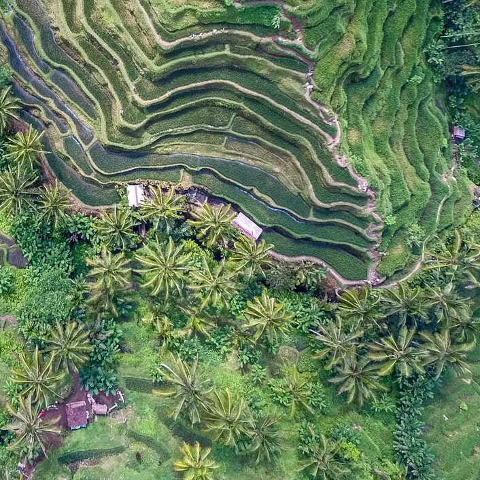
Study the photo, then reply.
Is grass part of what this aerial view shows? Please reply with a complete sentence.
Yes, the picture does contain grass.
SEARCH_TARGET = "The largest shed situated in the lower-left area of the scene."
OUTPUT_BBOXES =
[65,397,90,430]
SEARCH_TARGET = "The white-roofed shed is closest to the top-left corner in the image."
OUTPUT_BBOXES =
[127,184,144,206]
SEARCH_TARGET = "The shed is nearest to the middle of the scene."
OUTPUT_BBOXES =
[229,212,263,240]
